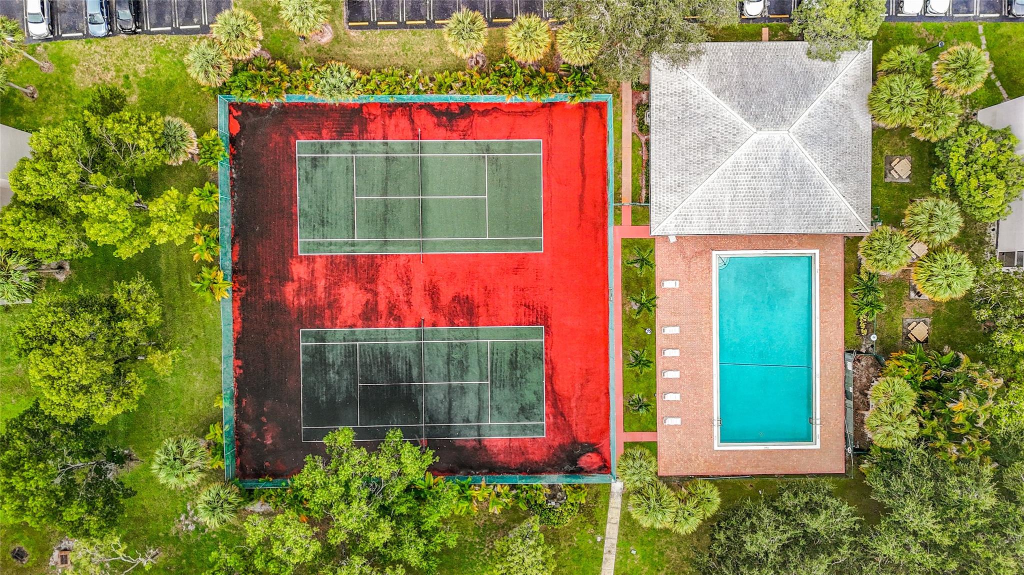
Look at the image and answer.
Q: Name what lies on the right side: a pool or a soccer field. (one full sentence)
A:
You can see a pool on the right side.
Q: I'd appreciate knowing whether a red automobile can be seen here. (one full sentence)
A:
No, I can't see a single red automobile in this photo.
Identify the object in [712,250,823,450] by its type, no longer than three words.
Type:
swimming pool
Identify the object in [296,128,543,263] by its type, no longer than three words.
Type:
tennis court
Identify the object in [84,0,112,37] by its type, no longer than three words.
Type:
car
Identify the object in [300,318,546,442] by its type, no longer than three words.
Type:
tennis court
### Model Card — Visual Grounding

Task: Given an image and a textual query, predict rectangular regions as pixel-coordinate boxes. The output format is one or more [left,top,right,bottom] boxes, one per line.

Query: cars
[23,0,52,38]
[900,0,923,14]
[84,0,112,37]
[927,0,950,14]
[113,0,140,34]
[1011,0,1024,17]
[742,0,764,17]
